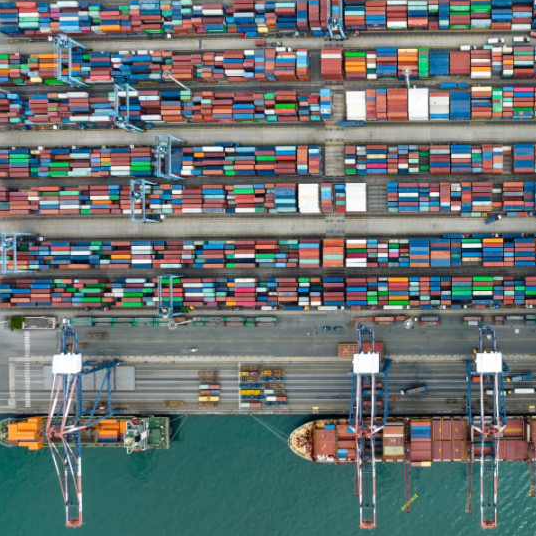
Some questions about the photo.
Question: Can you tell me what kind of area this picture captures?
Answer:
port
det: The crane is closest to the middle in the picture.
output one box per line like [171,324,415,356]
[155,275,194,319]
